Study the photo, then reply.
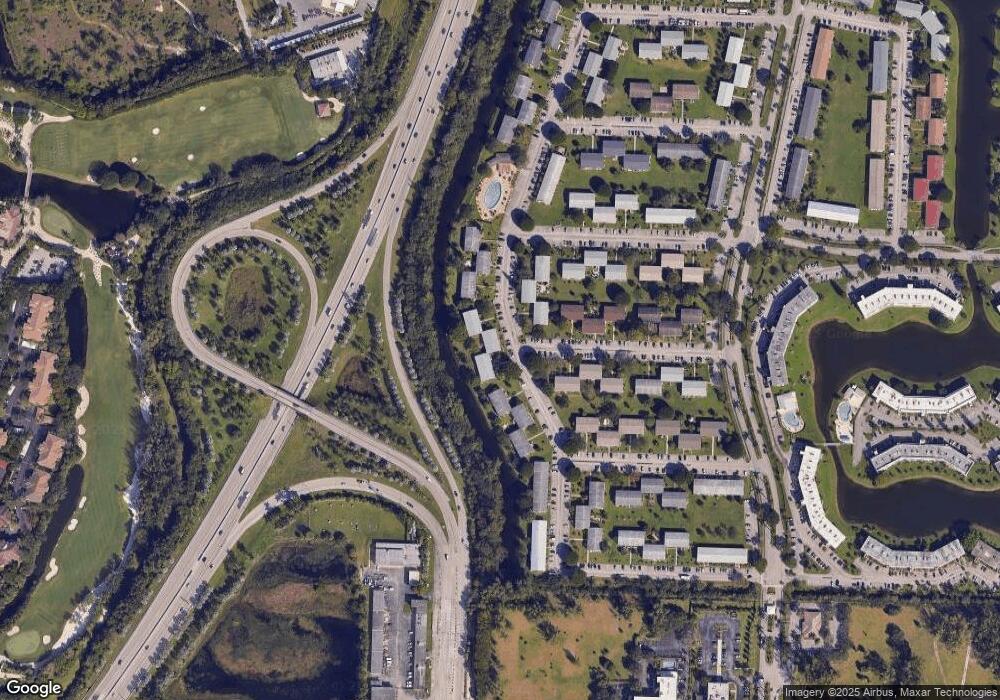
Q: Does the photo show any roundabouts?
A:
No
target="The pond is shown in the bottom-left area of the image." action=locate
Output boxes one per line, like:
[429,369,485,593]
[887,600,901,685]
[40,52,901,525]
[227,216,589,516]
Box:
[0,465,84,627]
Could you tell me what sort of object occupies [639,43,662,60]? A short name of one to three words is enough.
building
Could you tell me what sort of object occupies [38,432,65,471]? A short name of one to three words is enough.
house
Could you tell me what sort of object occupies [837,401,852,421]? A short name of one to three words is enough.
swimming pool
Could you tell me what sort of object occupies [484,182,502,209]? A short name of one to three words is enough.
swimming pool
